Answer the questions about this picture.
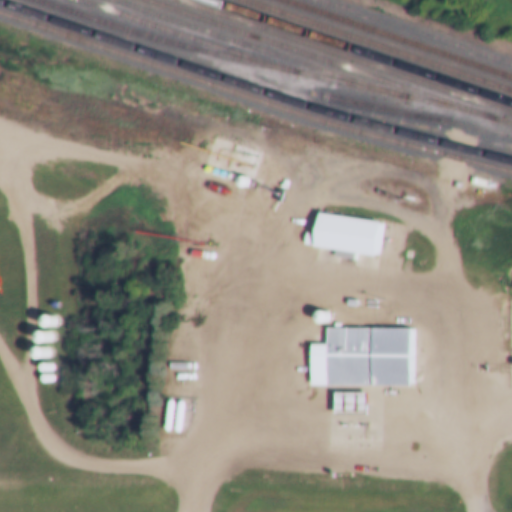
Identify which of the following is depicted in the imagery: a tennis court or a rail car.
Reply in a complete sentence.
I can see a rail car in this picture.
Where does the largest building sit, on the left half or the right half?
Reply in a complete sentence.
The largest building appears in the right half of the scene.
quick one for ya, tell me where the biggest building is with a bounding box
[310,327,415,386]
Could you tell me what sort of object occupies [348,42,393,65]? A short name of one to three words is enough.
rail car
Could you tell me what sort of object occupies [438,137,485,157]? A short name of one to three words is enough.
rail car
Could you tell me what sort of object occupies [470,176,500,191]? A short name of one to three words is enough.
vehicle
